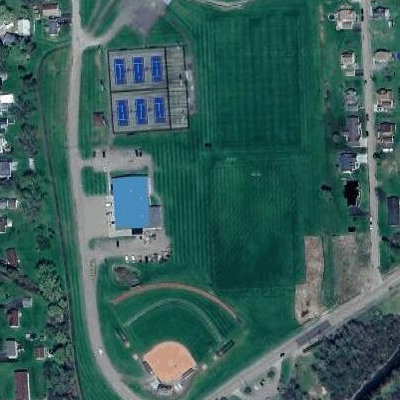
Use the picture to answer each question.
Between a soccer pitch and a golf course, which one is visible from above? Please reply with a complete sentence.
Visible in the photo is a soccer pitch.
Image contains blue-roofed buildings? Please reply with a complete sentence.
Yes, the picture does show a blue-roofed building.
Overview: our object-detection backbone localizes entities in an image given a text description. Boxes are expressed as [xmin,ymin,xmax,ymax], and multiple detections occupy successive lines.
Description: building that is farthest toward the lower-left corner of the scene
[15,371,30,400]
